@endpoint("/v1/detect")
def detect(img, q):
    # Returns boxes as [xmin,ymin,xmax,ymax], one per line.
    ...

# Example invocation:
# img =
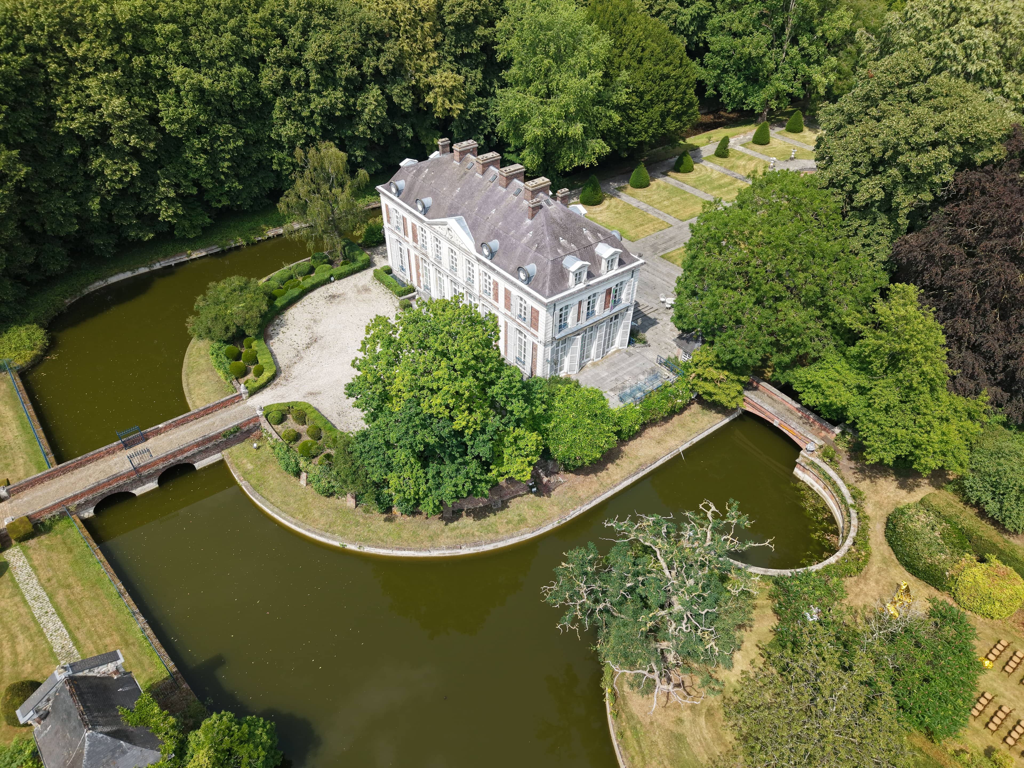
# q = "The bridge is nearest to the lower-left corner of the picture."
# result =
[2,392,260,524]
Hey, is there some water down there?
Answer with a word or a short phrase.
Yes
